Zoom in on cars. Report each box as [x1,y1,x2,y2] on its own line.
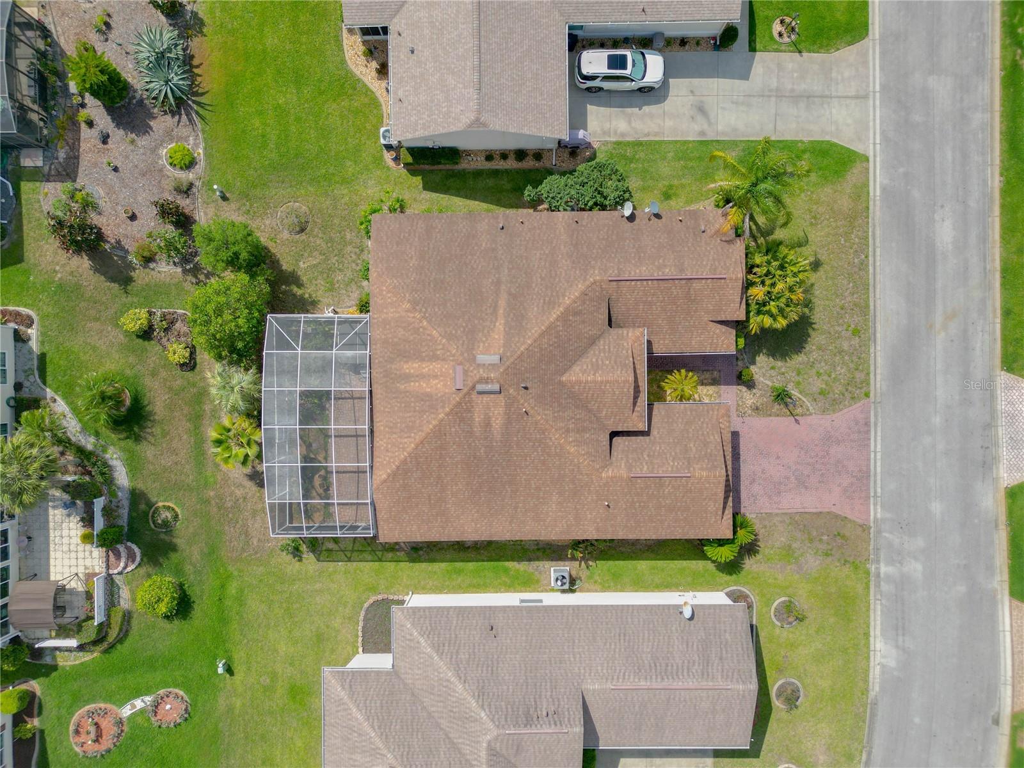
[574,46,665,93]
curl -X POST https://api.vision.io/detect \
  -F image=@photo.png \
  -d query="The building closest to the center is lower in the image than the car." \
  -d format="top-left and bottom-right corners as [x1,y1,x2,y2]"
[367,208,747,542]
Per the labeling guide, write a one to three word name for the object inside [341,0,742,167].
house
